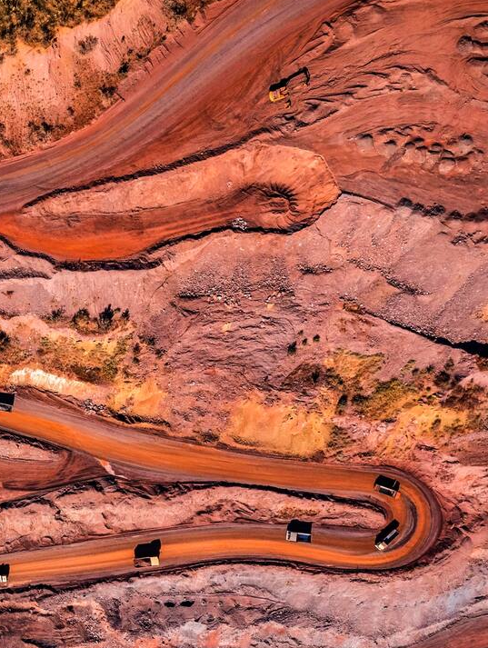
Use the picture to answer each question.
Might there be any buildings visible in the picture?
No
